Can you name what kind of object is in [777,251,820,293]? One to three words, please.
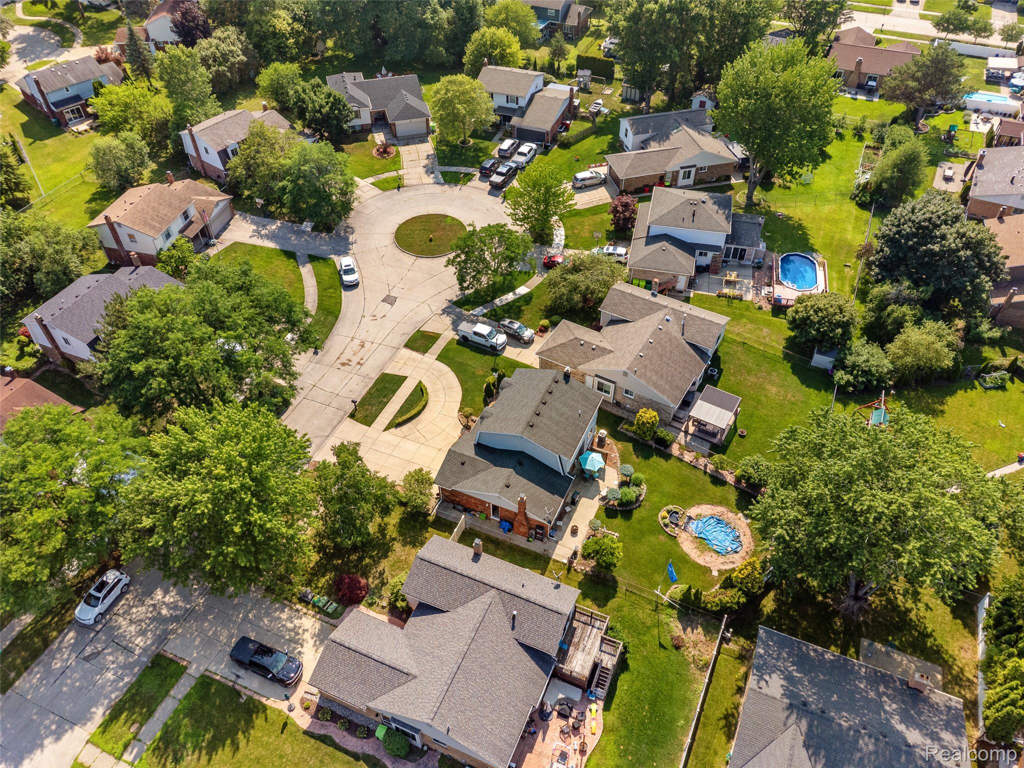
swimming pool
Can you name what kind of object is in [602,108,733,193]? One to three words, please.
house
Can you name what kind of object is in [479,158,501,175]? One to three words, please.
car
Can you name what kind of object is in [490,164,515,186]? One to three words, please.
truck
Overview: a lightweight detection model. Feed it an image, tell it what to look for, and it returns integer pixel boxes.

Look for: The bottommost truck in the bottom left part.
[226,645,302,693]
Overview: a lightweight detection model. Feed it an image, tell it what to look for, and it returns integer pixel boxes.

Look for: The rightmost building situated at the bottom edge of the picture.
[728,625,980,768]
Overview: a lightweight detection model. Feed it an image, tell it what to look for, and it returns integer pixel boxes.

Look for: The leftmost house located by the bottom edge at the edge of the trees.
[307,529,582,768]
